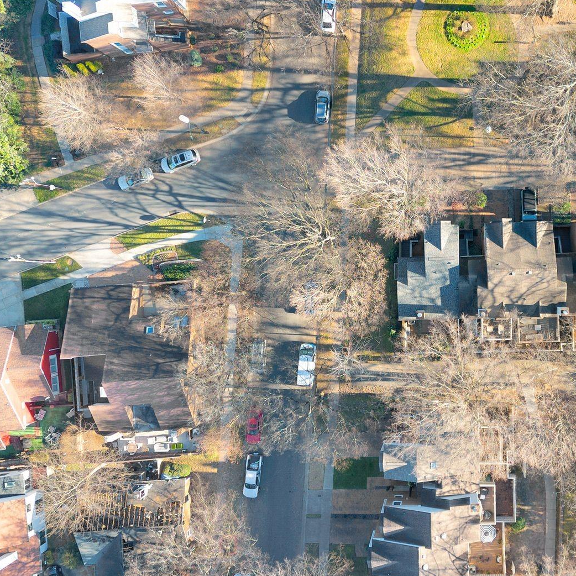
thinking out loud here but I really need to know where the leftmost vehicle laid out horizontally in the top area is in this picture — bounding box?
[118,168,156,190]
